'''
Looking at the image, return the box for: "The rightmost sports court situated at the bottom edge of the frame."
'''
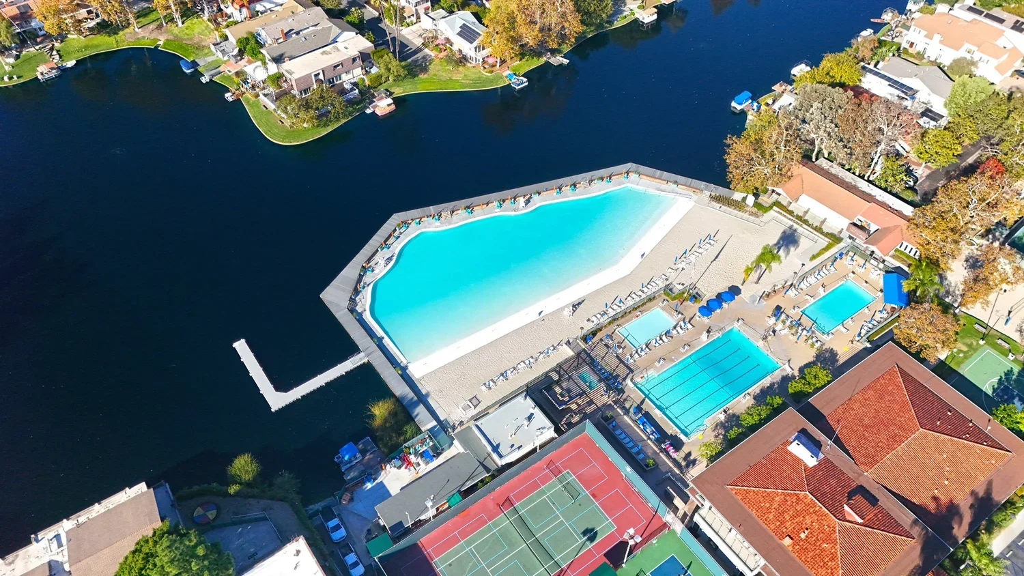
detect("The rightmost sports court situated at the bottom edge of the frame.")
[625,528,715,576]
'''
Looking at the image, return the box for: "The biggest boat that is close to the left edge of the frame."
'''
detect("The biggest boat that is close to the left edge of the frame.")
[36,64,65,83]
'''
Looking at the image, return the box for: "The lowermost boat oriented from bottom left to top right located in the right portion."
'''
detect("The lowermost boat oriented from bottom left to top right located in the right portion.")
[727,86,757,112]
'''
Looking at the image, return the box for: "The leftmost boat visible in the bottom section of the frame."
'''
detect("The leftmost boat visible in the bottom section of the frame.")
[334,435,363,465]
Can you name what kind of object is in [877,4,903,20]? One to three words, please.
boat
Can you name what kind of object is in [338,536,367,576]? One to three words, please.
truck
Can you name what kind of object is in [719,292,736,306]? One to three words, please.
umbrella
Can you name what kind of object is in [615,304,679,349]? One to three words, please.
swimming pool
